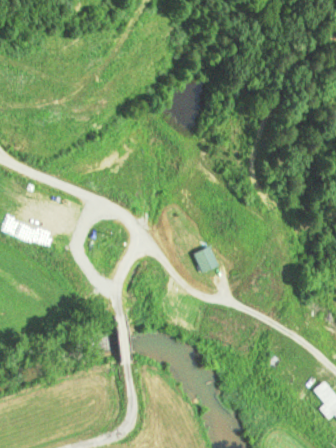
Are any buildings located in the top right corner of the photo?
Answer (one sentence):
No, I see no building in the top right corner of the photo.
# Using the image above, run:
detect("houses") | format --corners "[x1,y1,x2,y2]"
[314,382,336,420]
[194,247,218,273]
